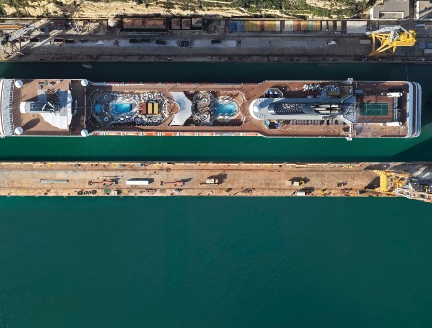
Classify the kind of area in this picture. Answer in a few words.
port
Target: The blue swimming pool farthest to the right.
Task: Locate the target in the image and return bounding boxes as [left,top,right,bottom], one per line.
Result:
[215,100,237,117]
